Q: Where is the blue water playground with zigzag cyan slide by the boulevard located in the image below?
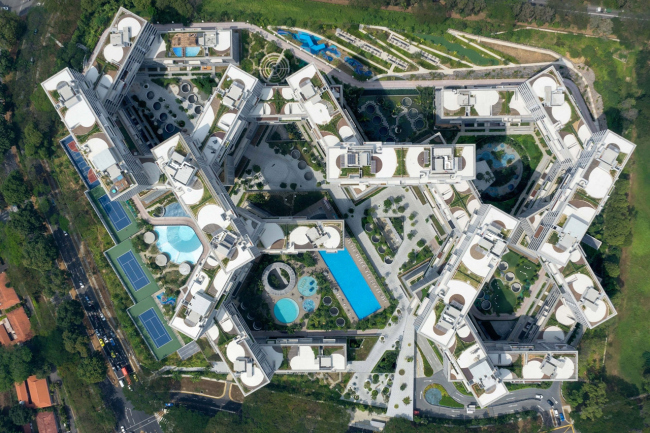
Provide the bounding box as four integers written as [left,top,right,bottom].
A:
[277,28,373,81]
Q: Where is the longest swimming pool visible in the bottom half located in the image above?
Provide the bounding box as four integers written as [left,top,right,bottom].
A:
[312,238,391,326]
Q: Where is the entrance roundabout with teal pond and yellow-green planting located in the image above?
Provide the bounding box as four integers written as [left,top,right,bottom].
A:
[423,383,467,408]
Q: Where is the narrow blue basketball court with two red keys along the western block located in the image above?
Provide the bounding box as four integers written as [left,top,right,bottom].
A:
[58,135,100,190]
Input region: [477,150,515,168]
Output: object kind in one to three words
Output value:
swimming pool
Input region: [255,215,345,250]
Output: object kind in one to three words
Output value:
building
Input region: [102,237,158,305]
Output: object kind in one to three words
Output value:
tennis court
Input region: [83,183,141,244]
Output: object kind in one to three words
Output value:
tennis court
